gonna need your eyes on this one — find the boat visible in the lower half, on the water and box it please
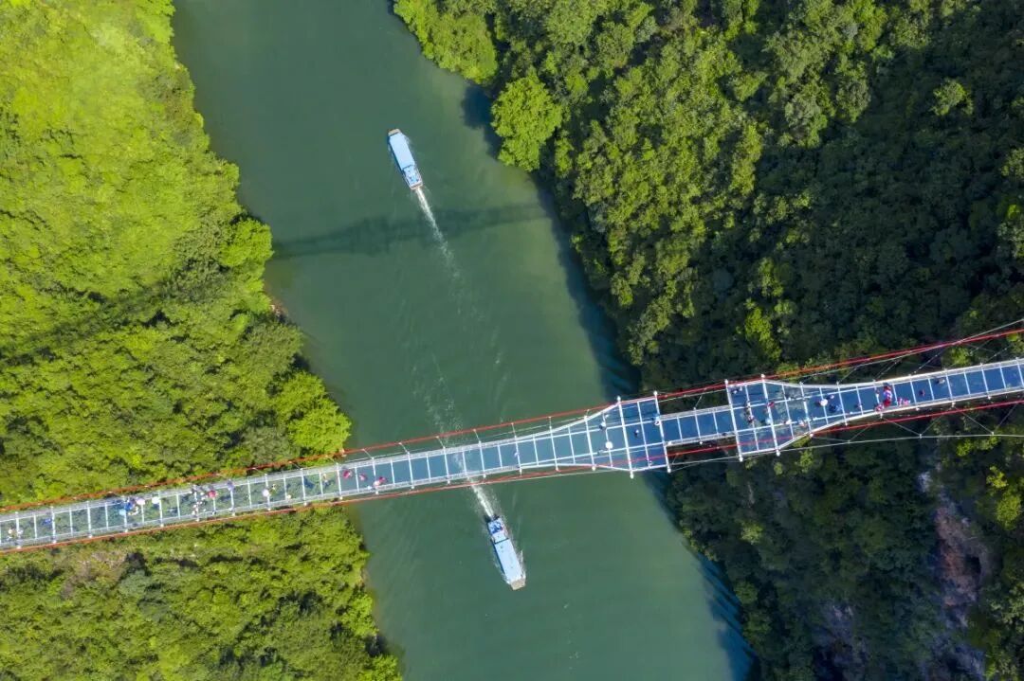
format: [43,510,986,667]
[484,514,526,590]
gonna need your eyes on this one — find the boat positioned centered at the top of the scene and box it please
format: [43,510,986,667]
[390,129,425,193]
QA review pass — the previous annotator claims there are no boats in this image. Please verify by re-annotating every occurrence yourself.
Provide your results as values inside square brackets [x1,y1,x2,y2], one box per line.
[390,129,425,193]
[484,514,526,590]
